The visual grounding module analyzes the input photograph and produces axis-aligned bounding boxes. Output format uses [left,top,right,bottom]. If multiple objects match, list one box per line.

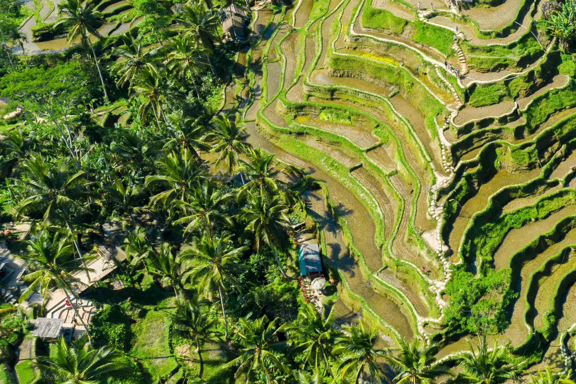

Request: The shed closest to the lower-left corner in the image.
[22,316,68,346]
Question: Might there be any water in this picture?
Yes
